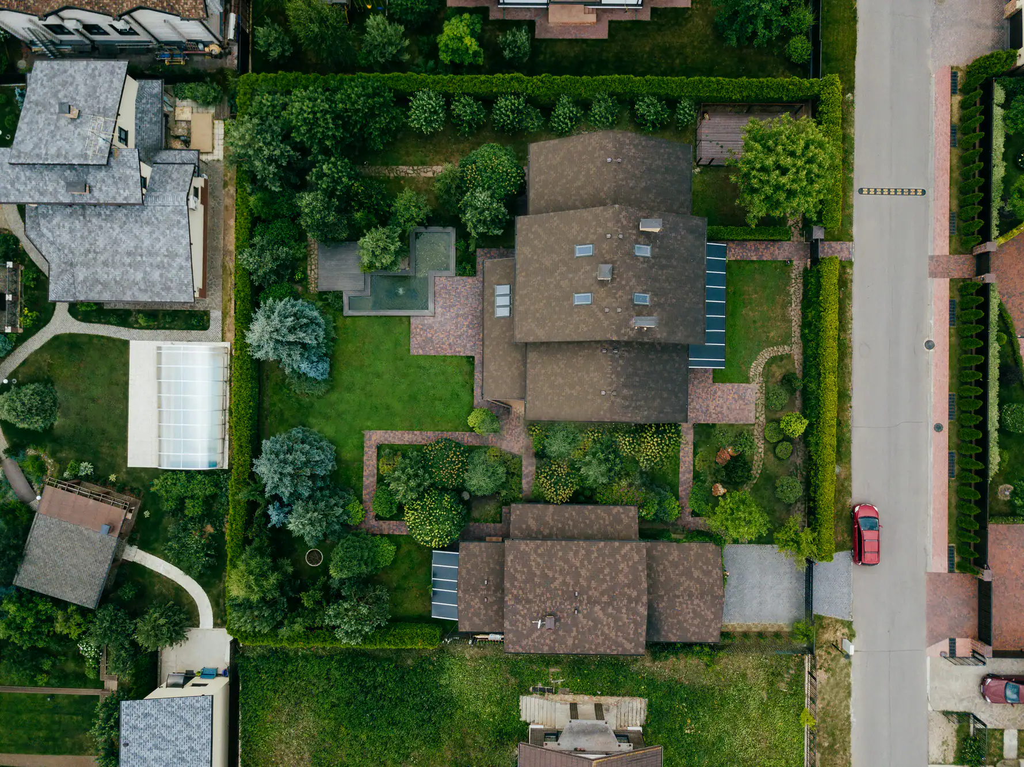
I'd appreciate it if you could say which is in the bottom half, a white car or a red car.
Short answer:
red car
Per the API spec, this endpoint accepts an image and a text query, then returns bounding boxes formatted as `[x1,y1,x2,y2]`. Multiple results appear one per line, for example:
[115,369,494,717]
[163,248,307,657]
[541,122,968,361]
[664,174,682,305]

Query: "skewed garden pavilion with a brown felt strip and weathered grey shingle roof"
[12,474,150,611]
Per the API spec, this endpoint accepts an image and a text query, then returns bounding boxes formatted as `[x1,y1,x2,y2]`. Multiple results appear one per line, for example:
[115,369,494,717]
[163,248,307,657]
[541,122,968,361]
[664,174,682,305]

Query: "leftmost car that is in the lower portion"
[851,504,885,566]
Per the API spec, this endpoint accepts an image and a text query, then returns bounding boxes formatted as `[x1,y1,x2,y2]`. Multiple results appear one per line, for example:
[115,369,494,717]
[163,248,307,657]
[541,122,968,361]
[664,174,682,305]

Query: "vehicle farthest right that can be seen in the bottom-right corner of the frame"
[980,674,1024,708]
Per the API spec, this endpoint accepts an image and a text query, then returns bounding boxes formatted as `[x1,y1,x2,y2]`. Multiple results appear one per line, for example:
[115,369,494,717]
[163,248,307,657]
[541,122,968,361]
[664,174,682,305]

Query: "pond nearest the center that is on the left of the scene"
[343,226,455,316]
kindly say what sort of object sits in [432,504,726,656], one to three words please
house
